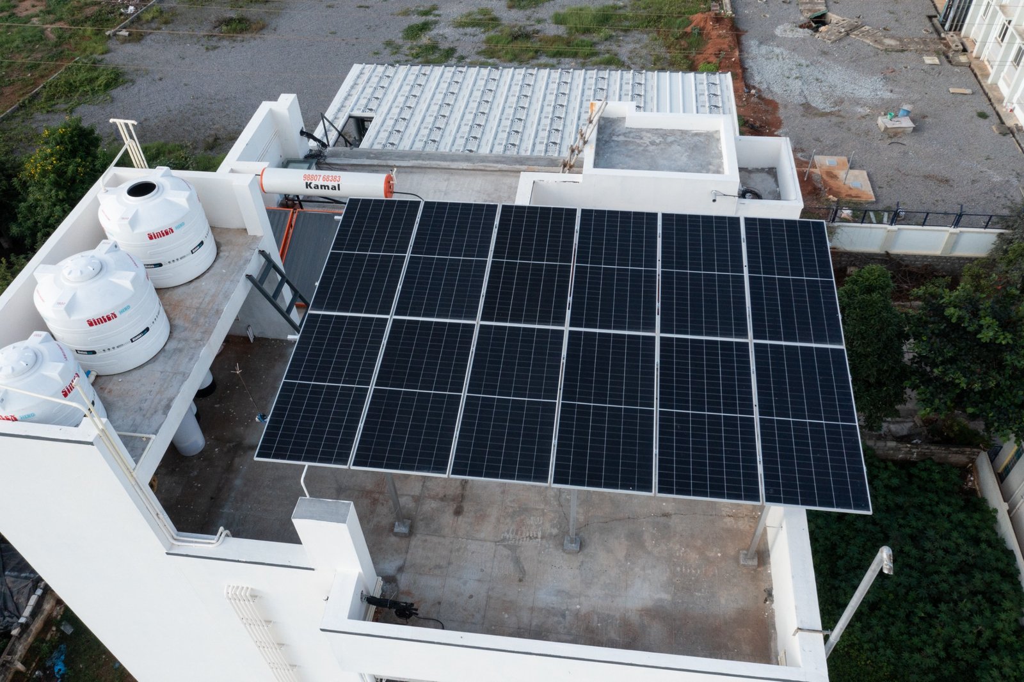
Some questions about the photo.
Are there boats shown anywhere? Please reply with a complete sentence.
No, the frame has no boat in it.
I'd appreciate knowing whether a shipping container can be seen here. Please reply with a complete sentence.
No, there's no shipping container here.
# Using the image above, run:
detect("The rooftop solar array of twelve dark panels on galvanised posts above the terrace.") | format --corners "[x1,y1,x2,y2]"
[256,198,872,571]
